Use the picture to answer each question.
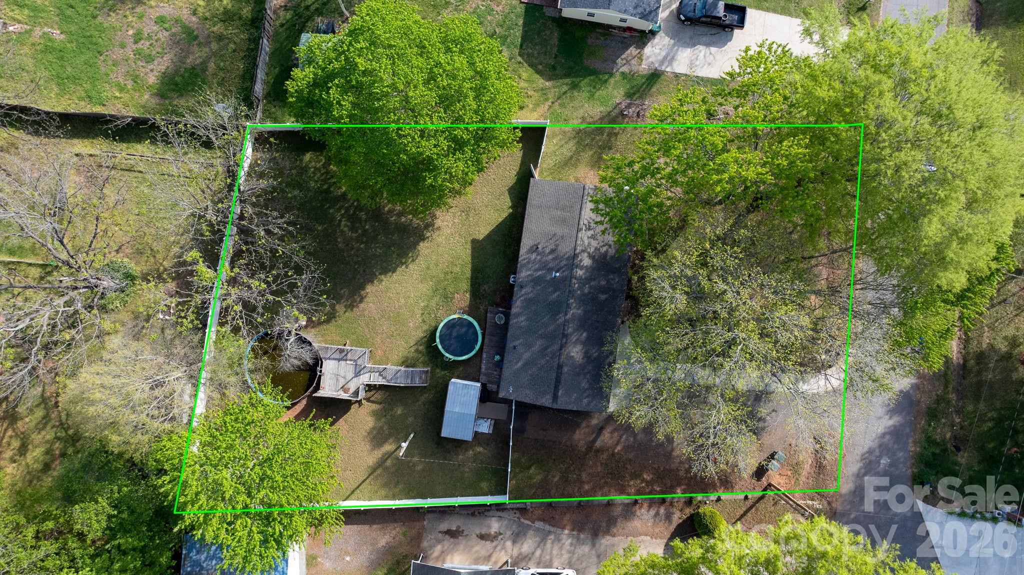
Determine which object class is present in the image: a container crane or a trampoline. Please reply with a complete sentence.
I can see a trampoline in this picture.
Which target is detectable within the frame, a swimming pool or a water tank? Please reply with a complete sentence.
It is a swimming pool that can be seen here.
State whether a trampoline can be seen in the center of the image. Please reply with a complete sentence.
Yes, a trampoline shows up in the center of the image.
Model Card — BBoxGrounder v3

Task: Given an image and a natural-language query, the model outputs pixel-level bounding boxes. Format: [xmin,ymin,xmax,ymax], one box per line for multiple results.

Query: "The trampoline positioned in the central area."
[430,312,484,365]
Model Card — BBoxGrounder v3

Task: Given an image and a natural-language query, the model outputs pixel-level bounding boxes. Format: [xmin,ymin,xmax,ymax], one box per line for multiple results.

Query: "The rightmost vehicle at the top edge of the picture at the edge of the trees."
[675,0,750,32]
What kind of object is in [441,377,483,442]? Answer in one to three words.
shed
